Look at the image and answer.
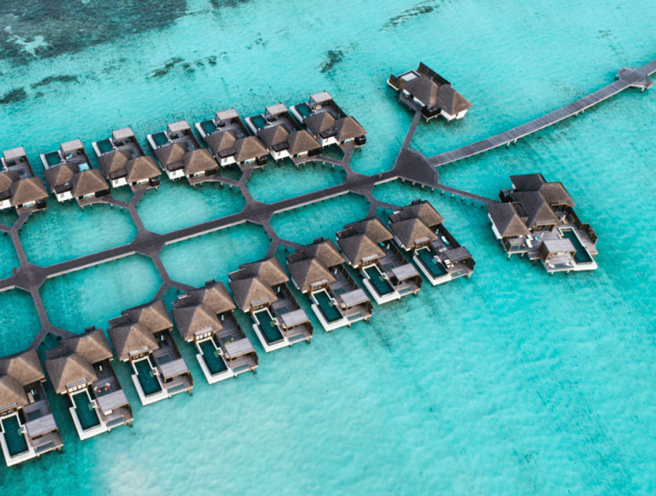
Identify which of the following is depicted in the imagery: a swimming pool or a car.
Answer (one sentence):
There is a swimming pool in the scene.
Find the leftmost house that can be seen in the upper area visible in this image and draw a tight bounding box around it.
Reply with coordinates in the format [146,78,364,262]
[0,144,49,219]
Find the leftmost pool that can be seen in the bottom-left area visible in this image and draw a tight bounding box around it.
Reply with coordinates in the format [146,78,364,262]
[0,411,36,469]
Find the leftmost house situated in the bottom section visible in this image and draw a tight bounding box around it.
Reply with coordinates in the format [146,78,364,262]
[0,348,65,457]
